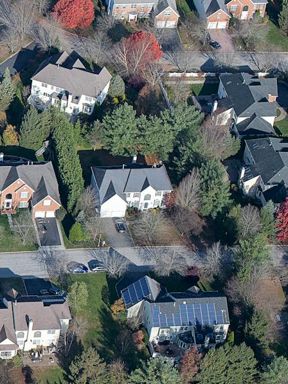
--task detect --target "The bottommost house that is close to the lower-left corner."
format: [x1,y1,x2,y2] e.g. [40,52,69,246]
[0,285,72,359]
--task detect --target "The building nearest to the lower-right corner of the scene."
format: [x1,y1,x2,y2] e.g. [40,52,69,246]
[117,272,231,347]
